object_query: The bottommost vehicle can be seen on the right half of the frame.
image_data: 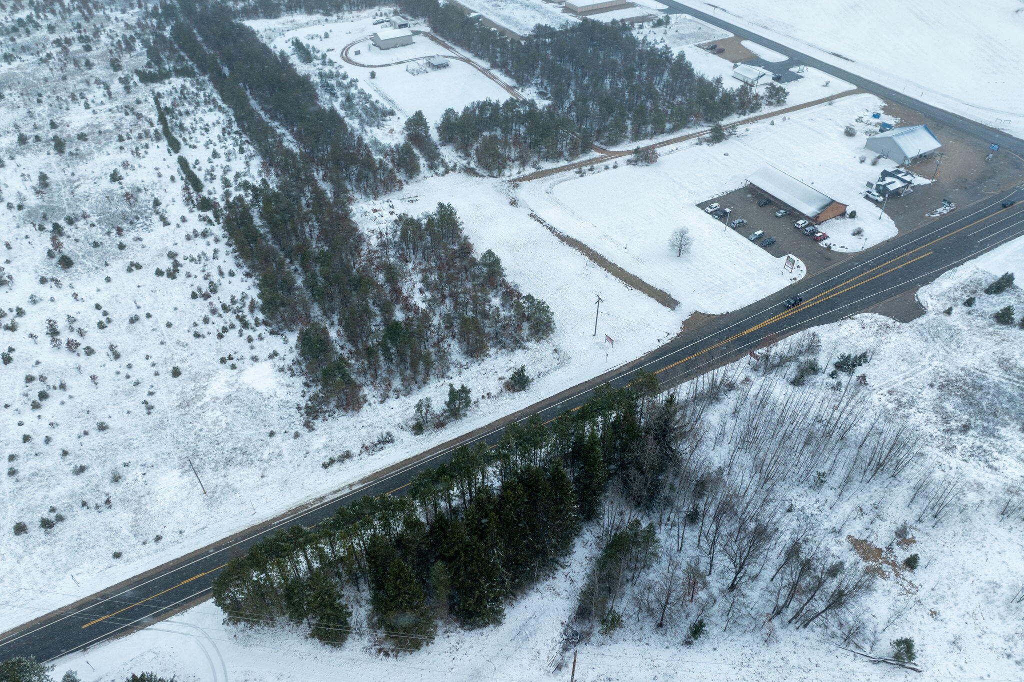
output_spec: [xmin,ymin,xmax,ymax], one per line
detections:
[786,295,803,307]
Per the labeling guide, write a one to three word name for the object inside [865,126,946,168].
building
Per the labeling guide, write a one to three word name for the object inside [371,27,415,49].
building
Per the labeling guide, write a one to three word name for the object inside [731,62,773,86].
house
